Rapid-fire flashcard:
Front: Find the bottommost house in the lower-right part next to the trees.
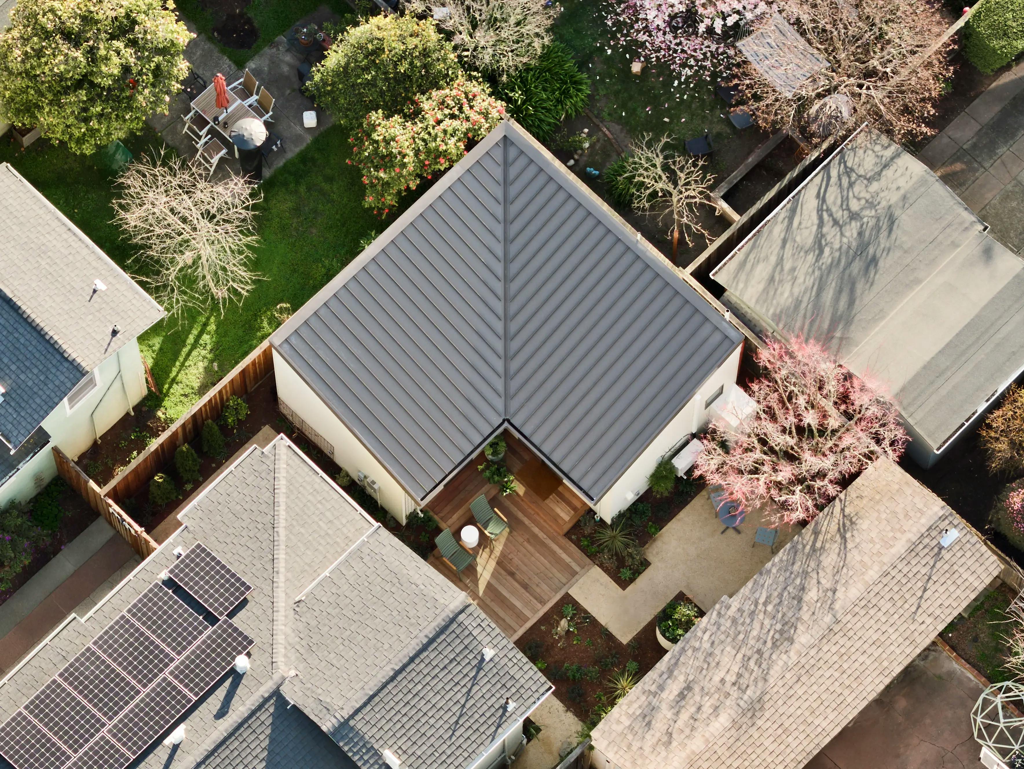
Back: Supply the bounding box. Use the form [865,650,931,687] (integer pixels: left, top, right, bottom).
[588,456,1008,769]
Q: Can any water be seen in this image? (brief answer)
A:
No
